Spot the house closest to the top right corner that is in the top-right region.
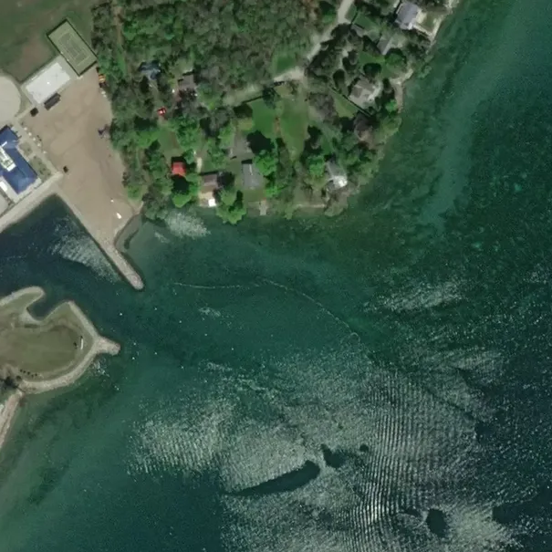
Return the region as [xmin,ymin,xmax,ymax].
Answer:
[394,3,424,31]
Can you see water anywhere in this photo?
Yes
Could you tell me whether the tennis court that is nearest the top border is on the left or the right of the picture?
left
